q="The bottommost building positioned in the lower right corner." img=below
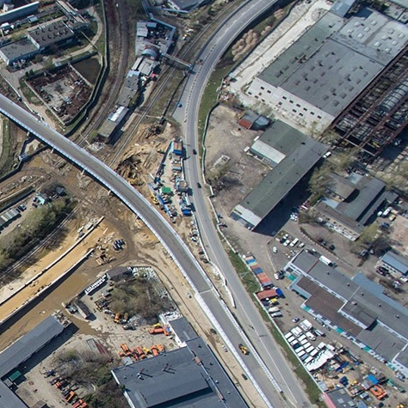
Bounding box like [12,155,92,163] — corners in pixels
[319,388,358,408]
